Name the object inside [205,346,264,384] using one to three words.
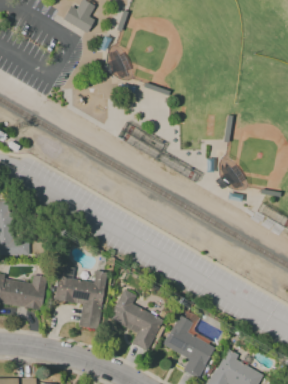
house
